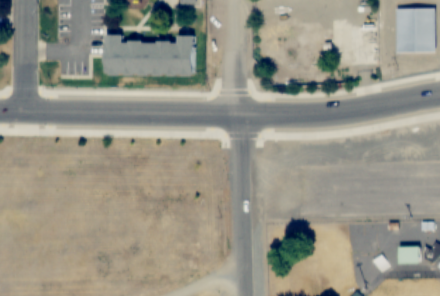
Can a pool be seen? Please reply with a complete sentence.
No, there is no pool in the image.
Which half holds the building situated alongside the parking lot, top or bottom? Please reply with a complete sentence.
The building situated alongside the parking lot is in the top half of the image.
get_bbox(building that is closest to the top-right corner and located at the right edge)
[396,8,438,52]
